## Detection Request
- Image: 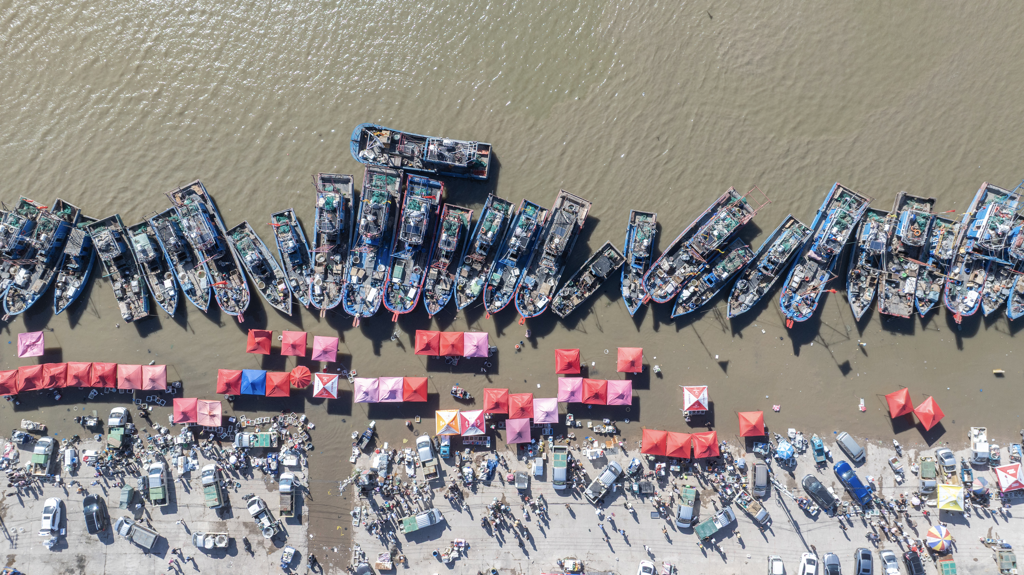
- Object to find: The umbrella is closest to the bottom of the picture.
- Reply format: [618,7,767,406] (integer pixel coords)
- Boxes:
[925,526,950,551]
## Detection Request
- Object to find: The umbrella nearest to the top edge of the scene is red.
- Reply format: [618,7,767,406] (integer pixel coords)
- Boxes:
[291,366,312,387]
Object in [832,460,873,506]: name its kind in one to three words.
truck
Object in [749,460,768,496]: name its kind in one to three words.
car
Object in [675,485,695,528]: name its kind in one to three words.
vehicle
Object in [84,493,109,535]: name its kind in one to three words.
car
